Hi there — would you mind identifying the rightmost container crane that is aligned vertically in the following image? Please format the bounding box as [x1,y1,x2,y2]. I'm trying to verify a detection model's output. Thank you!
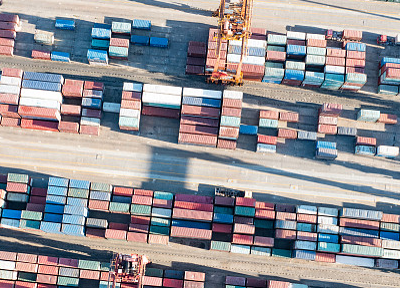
[205,0,255,87]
